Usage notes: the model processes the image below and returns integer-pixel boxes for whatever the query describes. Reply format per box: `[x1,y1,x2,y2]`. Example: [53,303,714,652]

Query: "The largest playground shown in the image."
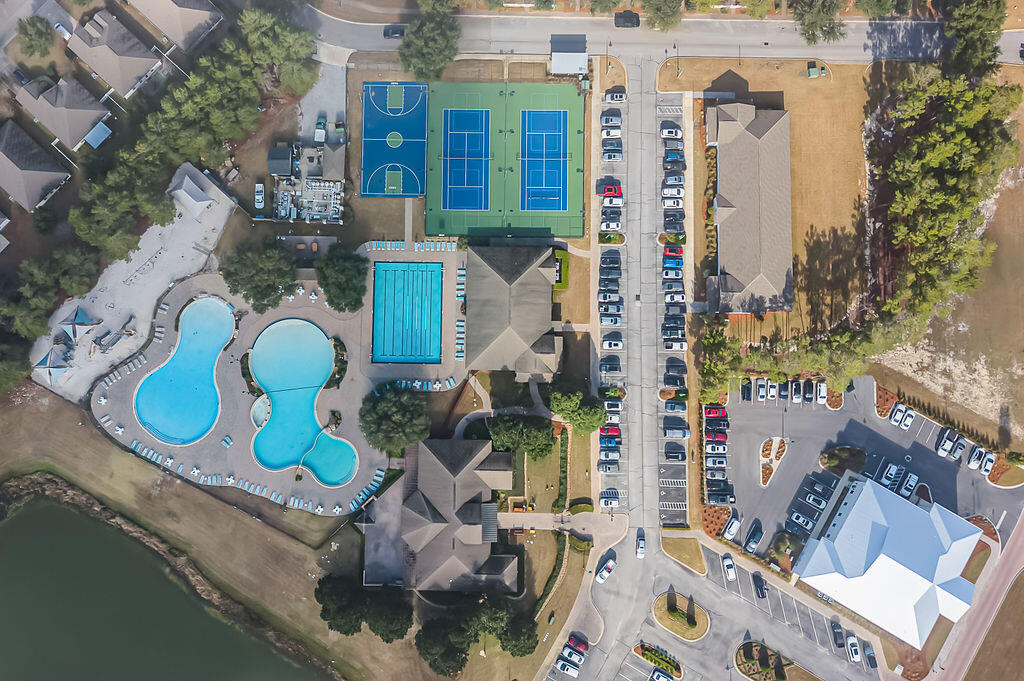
[84,315,135,357]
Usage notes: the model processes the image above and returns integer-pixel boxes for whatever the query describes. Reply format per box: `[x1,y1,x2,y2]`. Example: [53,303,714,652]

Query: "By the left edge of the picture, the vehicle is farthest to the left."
[12,67,32,86]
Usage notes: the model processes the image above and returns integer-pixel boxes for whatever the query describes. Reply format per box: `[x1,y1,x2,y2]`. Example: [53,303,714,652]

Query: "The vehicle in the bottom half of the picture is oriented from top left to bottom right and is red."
[569,637,589,654]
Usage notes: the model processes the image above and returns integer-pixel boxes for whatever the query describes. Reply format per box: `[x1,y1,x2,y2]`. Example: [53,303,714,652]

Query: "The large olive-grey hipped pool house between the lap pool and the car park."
[466,247,563,383]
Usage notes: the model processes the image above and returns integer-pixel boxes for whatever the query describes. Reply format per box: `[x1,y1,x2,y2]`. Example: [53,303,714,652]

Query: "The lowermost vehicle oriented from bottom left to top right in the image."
[596,560,616,584]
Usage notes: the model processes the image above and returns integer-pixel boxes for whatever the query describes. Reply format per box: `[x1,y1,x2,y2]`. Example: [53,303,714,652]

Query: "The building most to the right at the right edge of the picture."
[785,479,983,650]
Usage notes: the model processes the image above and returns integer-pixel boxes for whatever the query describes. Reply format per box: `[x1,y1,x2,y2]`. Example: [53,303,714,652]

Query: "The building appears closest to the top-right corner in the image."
[703,100,791,314]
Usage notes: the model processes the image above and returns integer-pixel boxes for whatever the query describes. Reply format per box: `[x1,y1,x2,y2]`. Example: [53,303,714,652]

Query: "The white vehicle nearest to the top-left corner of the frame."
[54,22,72,42]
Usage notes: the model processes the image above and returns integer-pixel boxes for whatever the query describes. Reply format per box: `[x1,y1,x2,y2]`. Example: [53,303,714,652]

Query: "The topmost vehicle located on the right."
[616,14,639,26]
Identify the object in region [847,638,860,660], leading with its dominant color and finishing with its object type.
white vehicle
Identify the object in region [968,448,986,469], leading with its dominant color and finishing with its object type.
white car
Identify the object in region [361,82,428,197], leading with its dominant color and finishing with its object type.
blue basketball court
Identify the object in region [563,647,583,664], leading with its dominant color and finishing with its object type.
white car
